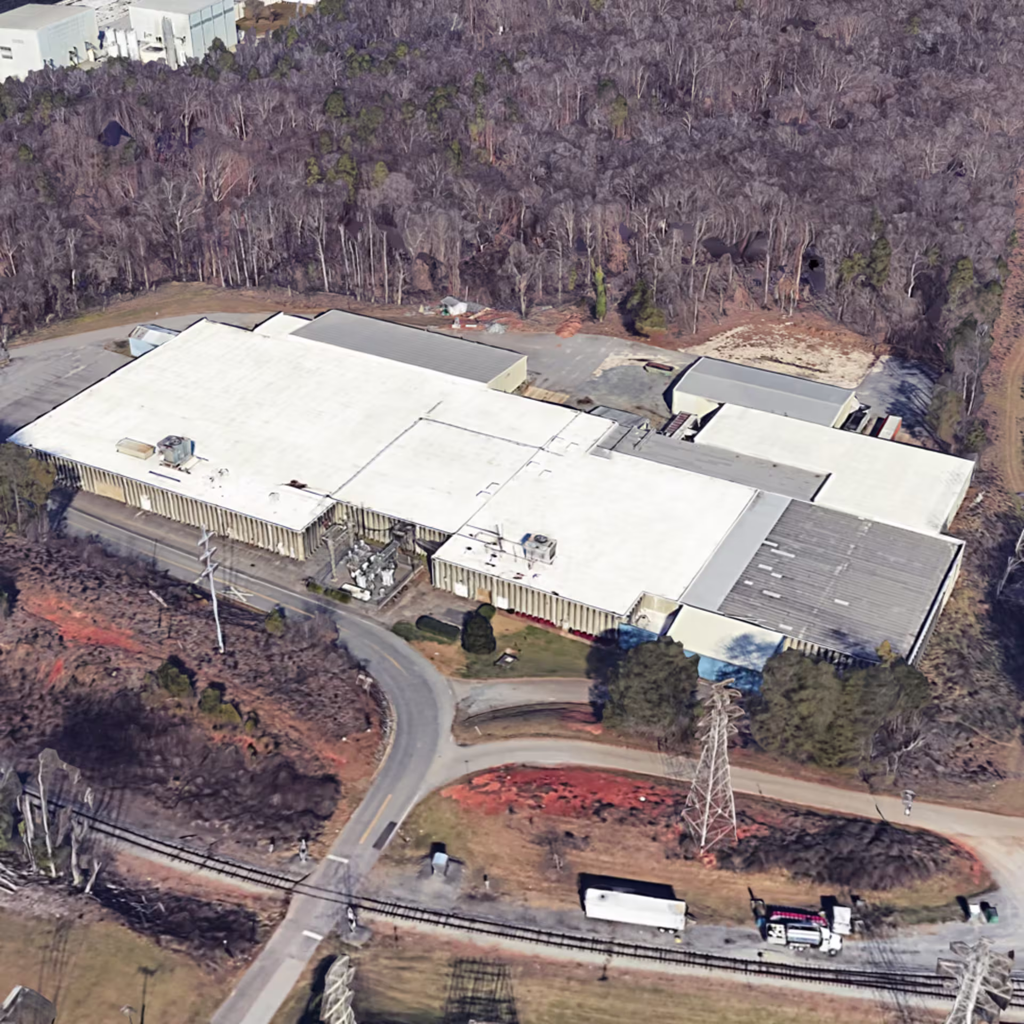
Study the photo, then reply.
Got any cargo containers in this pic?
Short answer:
Yes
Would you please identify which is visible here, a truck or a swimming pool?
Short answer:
truck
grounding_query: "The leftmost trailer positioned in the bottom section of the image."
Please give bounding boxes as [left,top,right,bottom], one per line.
[586,886,696,932]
